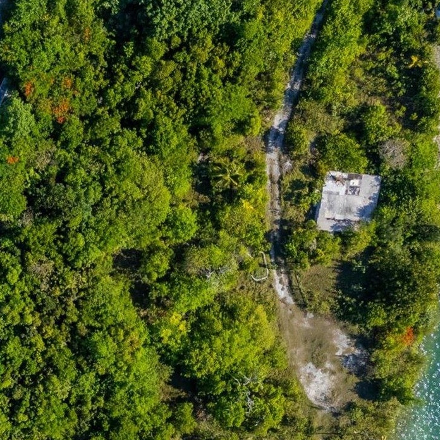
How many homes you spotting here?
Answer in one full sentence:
My tally gives 1 home in this photo.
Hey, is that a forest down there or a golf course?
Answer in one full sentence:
What you see here is a forest.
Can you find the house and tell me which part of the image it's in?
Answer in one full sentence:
You can find the house in the right area of the picture.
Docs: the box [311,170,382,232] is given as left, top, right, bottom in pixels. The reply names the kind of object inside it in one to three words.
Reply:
house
